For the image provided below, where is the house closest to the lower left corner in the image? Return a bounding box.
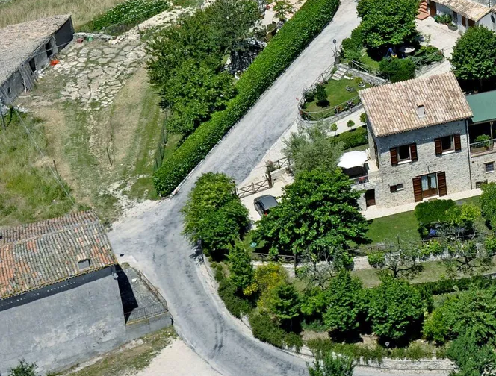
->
[0,209,125,371]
